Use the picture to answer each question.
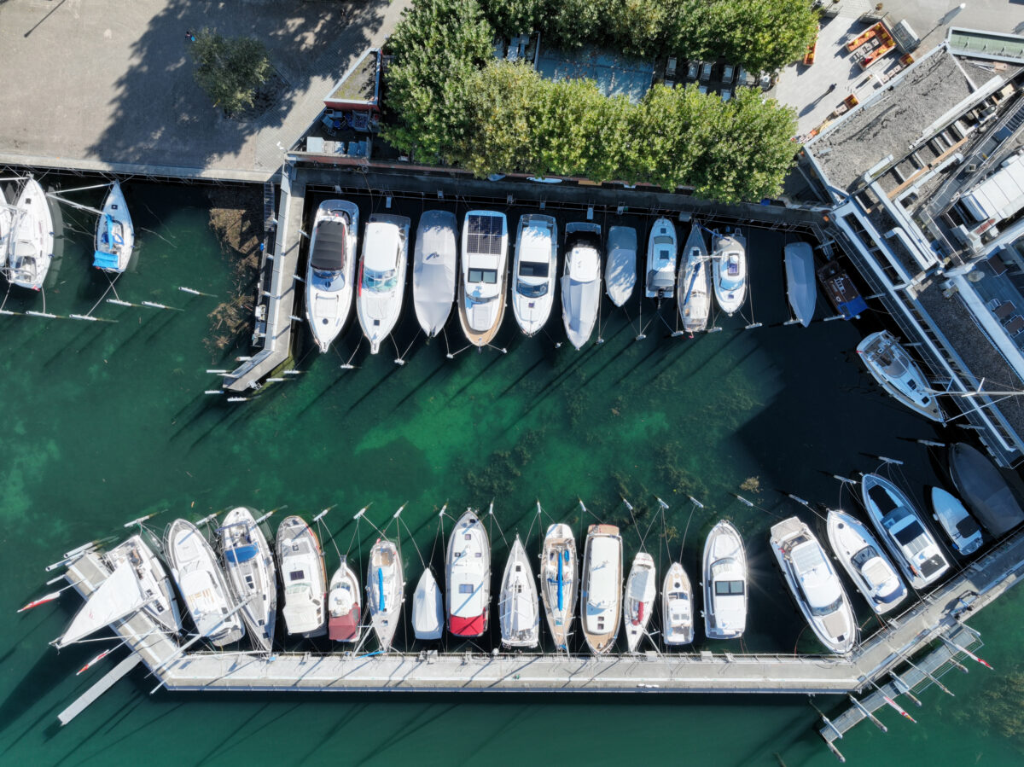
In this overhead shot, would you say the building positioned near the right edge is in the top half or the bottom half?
top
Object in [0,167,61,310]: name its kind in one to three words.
boat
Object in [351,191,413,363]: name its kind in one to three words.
boat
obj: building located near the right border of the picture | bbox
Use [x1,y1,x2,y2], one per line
[790,26,1024,468]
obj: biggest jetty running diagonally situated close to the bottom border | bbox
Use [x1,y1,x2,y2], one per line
[820,622,984,742]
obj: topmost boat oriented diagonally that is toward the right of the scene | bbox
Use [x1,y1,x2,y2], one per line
[816,258,871,323]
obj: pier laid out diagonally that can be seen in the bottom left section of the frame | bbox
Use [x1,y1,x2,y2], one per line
[58,652,138,724]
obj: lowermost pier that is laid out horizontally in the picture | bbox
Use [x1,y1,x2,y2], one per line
[62,524,1024,691]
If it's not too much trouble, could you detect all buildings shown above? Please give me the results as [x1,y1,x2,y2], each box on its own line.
[790,26,1024,468]
[323,46,386,117]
